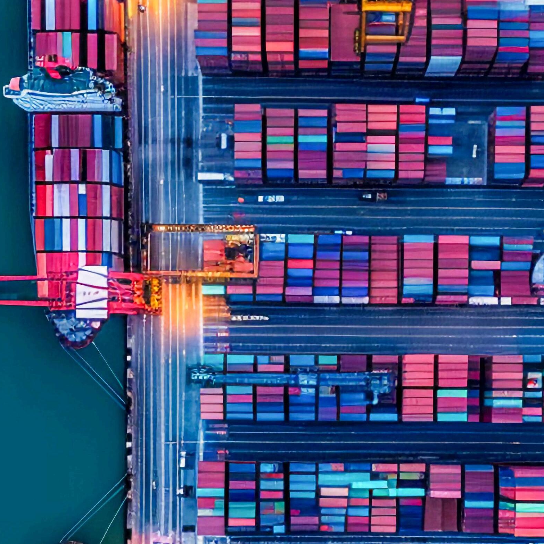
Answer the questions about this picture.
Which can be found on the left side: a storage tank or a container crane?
container crane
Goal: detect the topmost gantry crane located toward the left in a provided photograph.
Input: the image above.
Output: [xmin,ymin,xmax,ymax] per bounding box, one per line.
[147,225,257,284]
